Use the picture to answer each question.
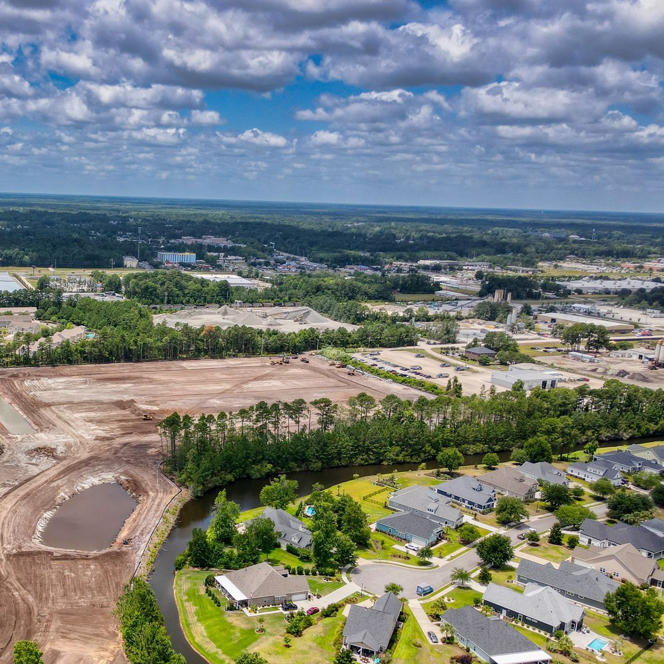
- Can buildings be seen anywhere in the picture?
Yes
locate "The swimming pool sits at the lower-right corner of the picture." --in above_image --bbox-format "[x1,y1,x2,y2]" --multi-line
[587,637,608,651]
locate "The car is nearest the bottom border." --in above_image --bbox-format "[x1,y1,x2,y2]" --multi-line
[425,630,440,642]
